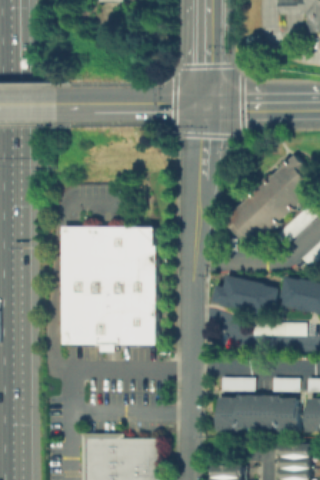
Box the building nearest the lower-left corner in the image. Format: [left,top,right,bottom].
[84,434,157,480]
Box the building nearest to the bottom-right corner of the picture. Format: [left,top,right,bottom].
[278,444,309,480]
